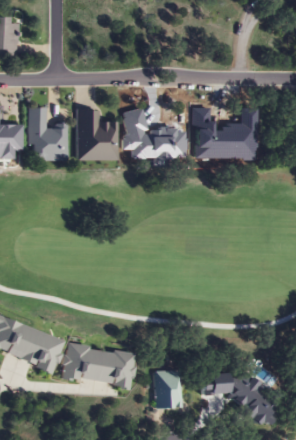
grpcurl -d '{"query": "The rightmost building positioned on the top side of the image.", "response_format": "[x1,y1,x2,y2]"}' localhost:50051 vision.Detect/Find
[190,108,260,159]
